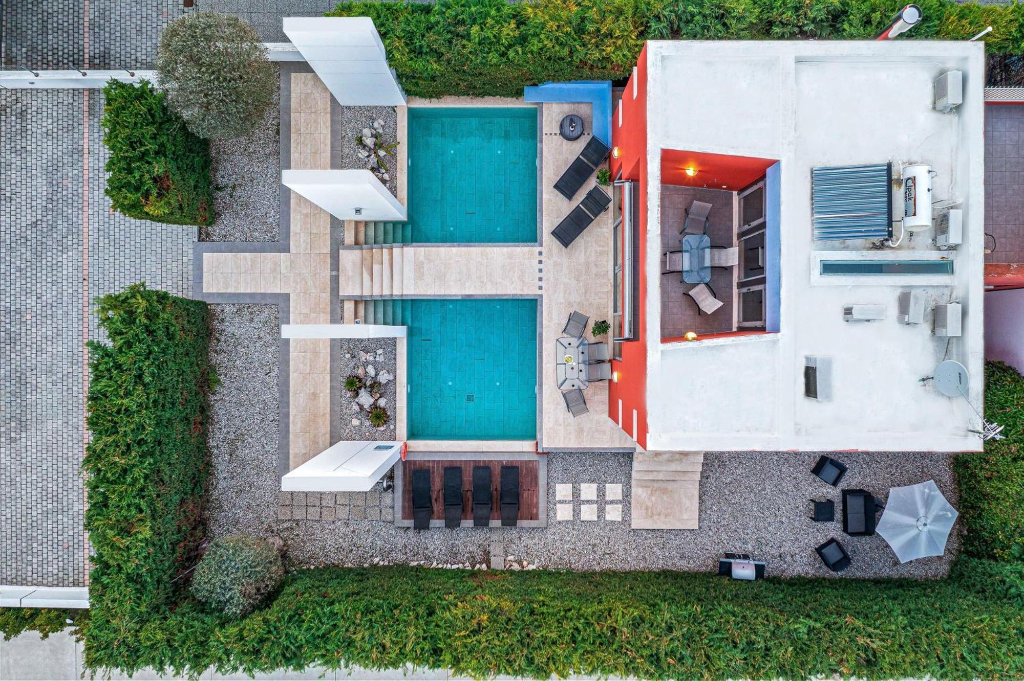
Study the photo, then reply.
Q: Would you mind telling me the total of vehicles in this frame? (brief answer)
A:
0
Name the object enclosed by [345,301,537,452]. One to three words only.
swimming pool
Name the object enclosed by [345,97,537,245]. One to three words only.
swimming pool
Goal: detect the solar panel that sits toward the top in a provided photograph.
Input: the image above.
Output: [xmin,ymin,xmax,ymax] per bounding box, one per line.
[809,161,895,241]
